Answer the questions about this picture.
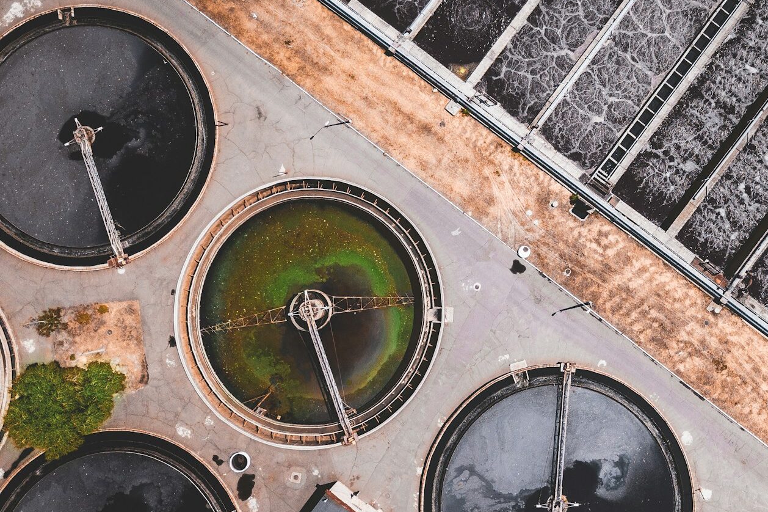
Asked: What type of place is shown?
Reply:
industrial area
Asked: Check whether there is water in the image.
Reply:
Yes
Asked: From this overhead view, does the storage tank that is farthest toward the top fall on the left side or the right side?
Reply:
left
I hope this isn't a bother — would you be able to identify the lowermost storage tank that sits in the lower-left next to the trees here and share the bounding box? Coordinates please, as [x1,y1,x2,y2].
[0,427,242,512]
